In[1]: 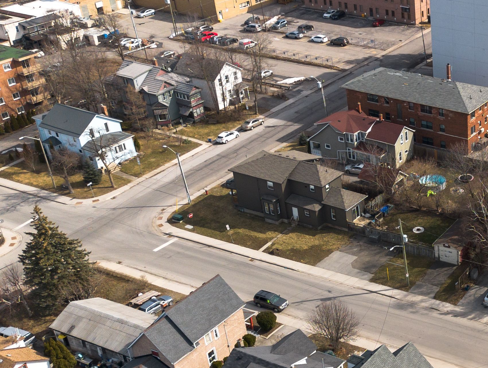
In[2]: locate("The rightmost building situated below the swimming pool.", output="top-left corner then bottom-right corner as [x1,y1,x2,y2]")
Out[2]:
[434,221,469,264]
